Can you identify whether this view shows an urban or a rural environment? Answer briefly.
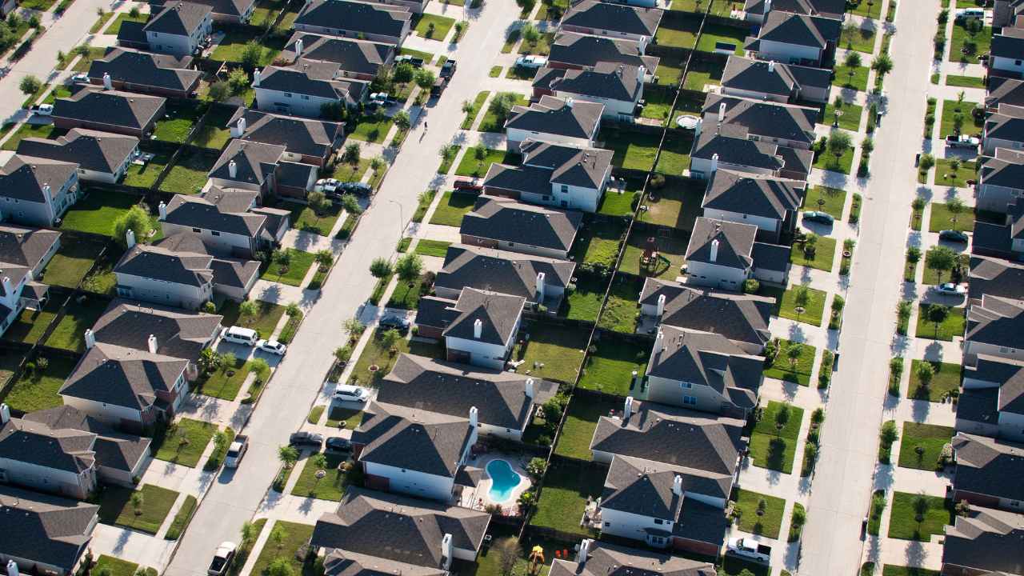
urban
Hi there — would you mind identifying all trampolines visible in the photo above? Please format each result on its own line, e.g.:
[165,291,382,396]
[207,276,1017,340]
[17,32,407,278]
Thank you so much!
[676,114,699,131]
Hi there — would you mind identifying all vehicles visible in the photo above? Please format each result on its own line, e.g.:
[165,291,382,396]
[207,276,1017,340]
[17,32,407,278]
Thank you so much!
[956,5,984,19]
[431,77,448,97]
[801,207,831,221]
[291,426,327,444]
[344,183,374,198]
[26,100,55,115]
[454,175,484,192]
[254,335,288,350]
[410,54,428,67]
[728,537,773,558]
[368,92,398,106]
[937,280,968,295]
[223,430,250,463]
[220,323,260,344]
[946,133,980,148]
[205,540,235,576]
[379,313,412,329]
[516,53,548,67]
[324,433,356,450]
[941,226,969,242]
[334,381,371,401]
[441,59,459,79]
[317,188,350,203]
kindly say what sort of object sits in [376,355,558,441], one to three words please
house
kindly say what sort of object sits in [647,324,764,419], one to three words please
house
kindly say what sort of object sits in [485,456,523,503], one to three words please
swimming pool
